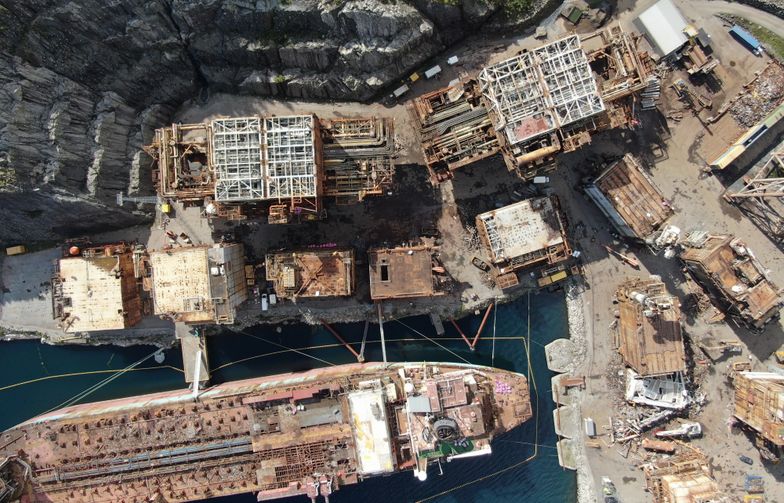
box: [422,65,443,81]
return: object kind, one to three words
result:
vehicle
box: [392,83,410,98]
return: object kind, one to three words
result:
vehicle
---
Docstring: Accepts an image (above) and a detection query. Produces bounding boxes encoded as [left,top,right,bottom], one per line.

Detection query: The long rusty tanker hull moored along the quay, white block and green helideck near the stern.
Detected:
[0,349,534,503]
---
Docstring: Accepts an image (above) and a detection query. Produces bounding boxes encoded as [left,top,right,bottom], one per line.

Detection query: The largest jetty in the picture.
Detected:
[174,321,212,388]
